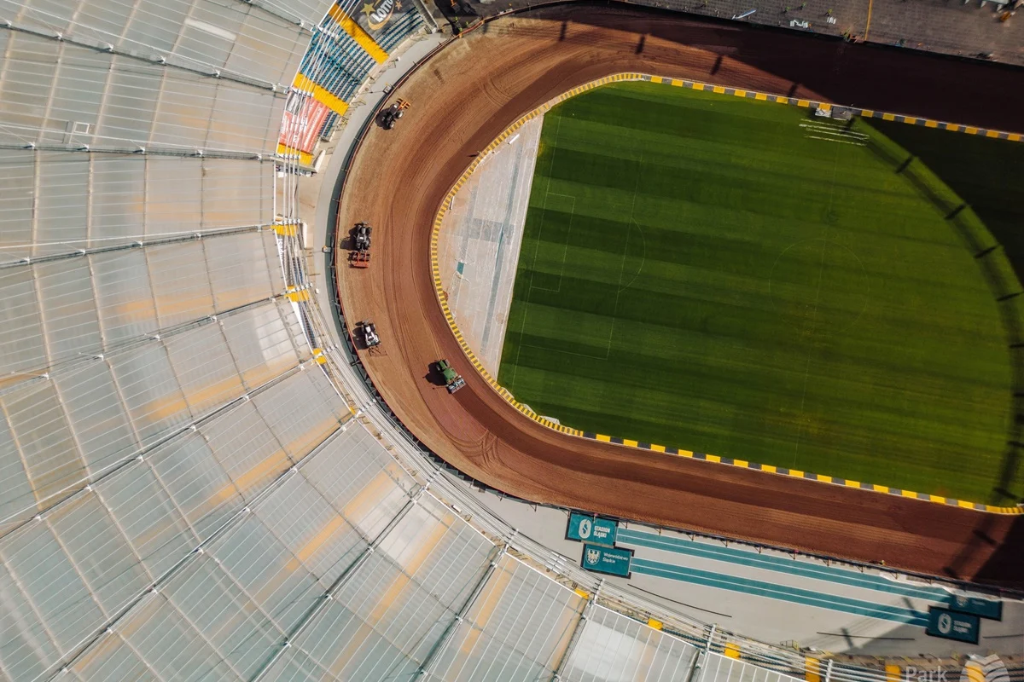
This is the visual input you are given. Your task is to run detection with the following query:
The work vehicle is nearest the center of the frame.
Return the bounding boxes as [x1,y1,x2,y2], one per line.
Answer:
[433,354,465,394]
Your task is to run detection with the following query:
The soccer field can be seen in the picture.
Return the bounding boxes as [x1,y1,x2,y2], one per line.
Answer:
[495,80,1024,509]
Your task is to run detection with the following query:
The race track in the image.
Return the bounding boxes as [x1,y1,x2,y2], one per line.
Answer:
[335,1,1024,594]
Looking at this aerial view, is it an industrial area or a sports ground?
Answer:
sports ground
